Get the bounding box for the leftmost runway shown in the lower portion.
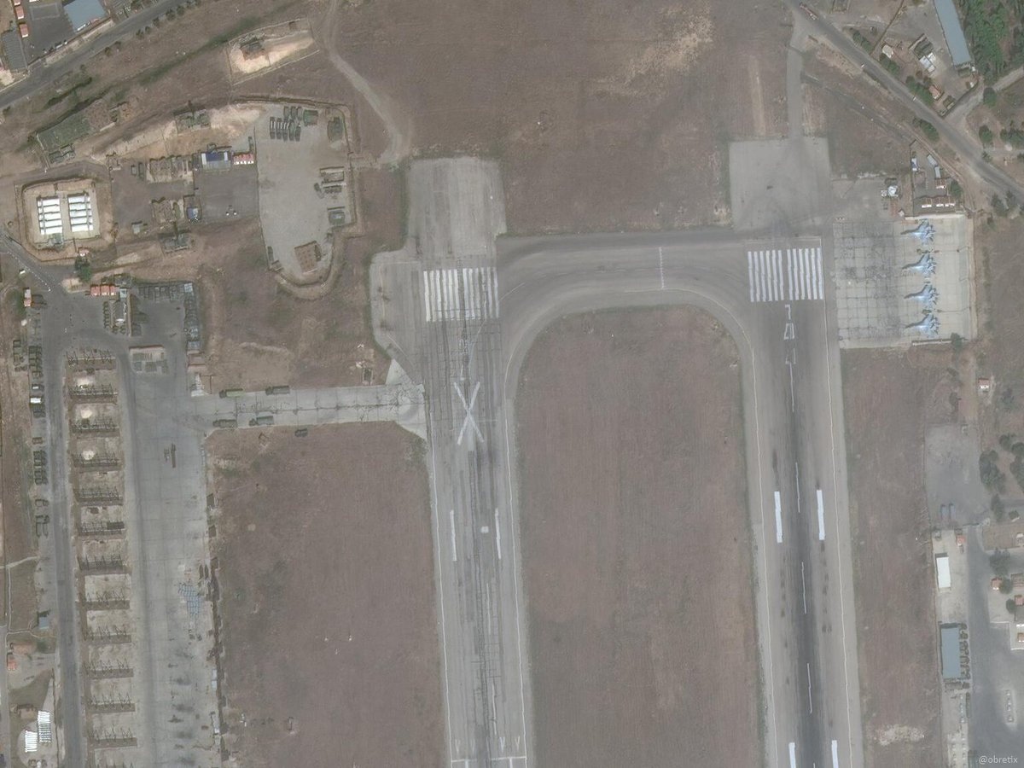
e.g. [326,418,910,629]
[410,253,534,768]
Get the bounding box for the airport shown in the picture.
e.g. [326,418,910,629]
[116,138,972,768]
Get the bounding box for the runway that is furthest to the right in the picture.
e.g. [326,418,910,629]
[732,224,864,768]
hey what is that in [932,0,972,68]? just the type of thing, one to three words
building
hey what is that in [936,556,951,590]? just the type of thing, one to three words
shed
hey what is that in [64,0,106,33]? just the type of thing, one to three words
building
